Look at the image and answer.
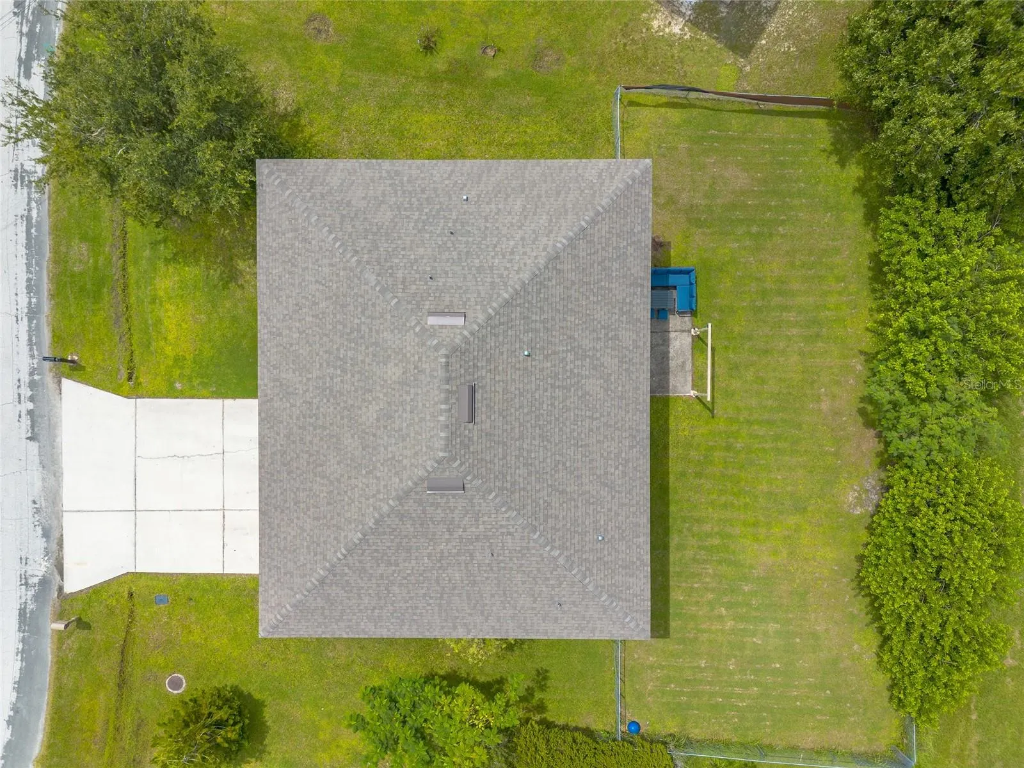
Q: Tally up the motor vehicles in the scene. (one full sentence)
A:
There are no motor vehicles in this view.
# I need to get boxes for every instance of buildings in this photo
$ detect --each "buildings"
[255,158,653,640]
